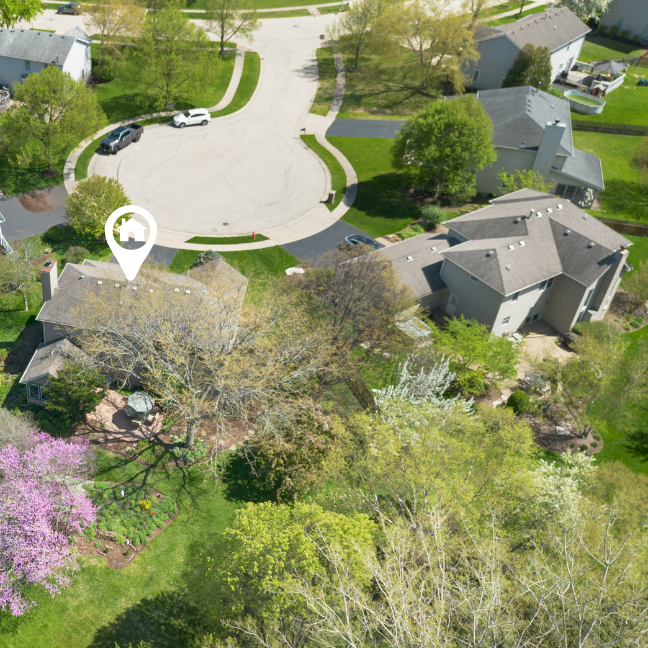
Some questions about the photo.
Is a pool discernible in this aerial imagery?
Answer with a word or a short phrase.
Yes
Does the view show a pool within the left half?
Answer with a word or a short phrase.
No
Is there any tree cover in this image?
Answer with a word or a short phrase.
Yes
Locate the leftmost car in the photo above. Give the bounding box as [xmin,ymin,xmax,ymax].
[55,1,84,15]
